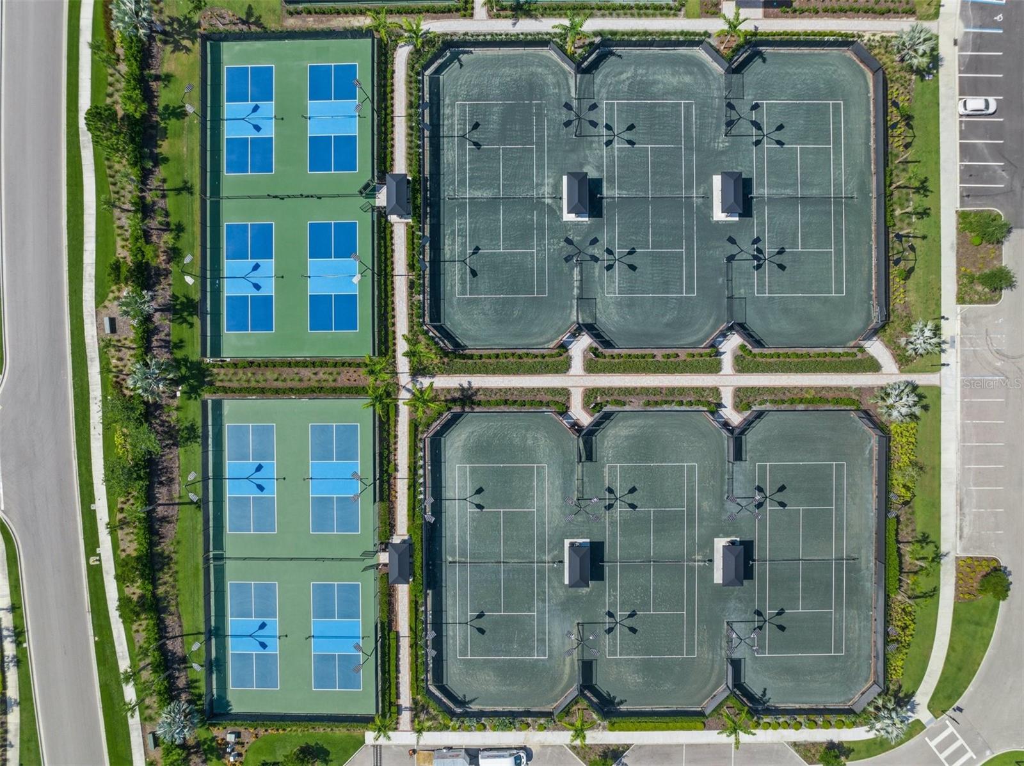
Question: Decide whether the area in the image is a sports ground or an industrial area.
sports ground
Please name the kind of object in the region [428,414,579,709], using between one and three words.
tennis court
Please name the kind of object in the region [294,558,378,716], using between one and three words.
sports court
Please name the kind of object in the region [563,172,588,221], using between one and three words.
building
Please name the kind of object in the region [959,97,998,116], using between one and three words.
car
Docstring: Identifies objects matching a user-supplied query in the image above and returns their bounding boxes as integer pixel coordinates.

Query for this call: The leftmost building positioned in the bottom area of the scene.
[388,541,411,584]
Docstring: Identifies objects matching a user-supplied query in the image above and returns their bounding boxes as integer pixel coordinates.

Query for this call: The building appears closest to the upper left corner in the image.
[386,174,408,217]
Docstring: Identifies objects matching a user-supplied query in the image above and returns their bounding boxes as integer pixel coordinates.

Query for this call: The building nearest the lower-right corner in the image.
[714,538,743,586]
